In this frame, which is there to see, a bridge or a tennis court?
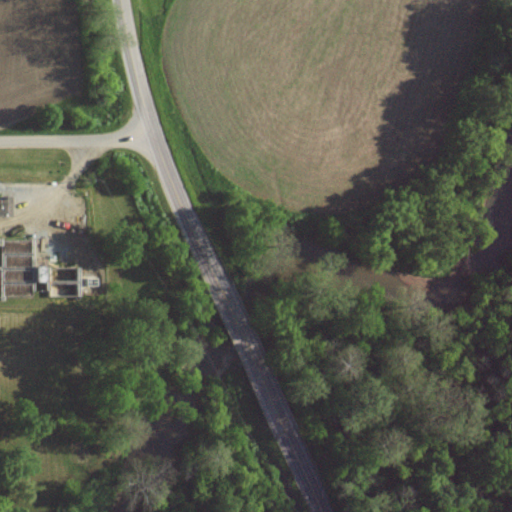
bridge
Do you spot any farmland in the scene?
Yes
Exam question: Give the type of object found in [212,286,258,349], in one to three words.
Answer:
bridge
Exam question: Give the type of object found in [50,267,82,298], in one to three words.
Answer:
storage tank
